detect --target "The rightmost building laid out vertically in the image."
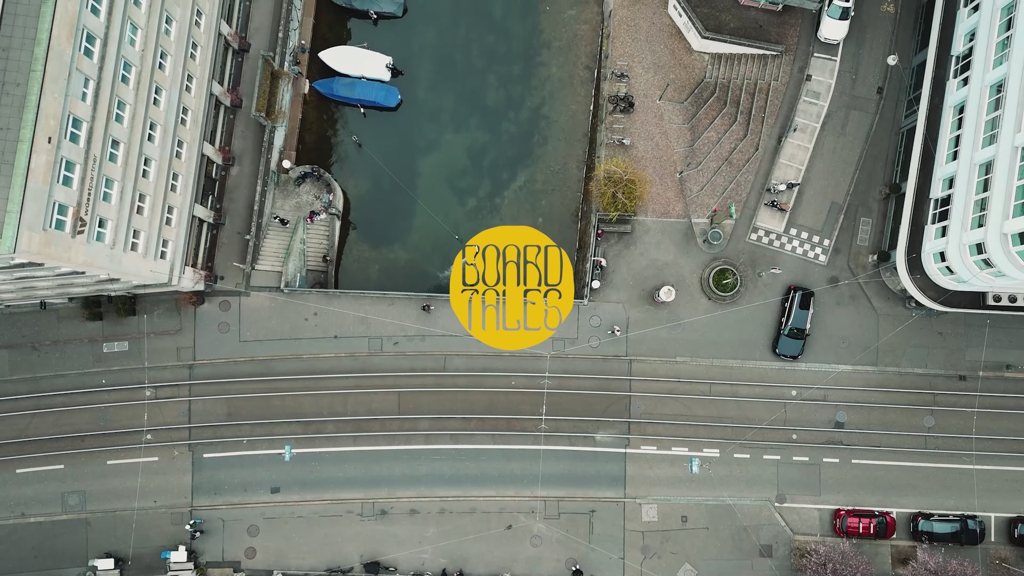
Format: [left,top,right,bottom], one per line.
[880,0,1024,317]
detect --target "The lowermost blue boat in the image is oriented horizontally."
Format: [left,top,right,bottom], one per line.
[311,80,403,121]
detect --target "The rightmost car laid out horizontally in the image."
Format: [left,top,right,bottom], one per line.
[908,510,986,548]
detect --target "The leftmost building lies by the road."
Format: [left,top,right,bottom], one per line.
[0,0,258,303]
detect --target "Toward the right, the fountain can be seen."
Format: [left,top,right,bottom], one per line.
[692,218,737,253]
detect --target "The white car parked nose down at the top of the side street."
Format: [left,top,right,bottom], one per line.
[815,0,854,45]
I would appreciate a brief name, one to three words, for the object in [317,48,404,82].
boat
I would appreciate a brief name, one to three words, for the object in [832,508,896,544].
car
